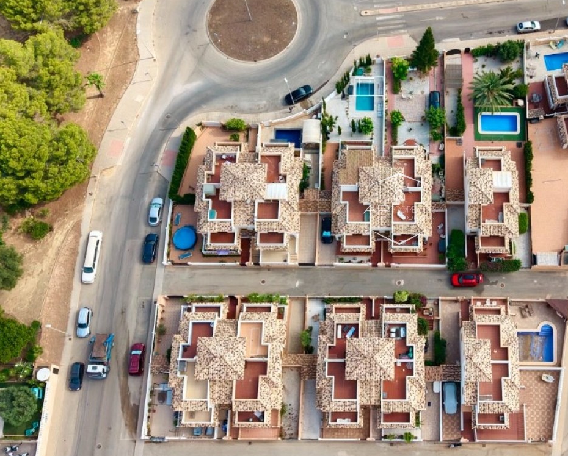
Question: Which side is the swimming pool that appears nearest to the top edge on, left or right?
right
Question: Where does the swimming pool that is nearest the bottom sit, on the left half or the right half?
right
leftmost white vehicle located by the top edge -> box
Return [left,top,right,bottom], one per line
[515,18,541,33]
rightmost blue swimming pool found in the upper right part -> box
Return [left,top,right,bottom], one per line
[544,52,568,72]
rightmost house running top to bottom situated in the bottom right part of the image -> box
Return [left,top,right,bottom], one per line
[457,304,519,429]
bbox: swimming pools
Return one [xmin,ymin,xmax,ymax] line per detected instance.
[172,226,199,252]
[355,81,376,111]
[544,52,568,72]
[274,128,303,148]
[478,111,520,135]
[515,322,555,364]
